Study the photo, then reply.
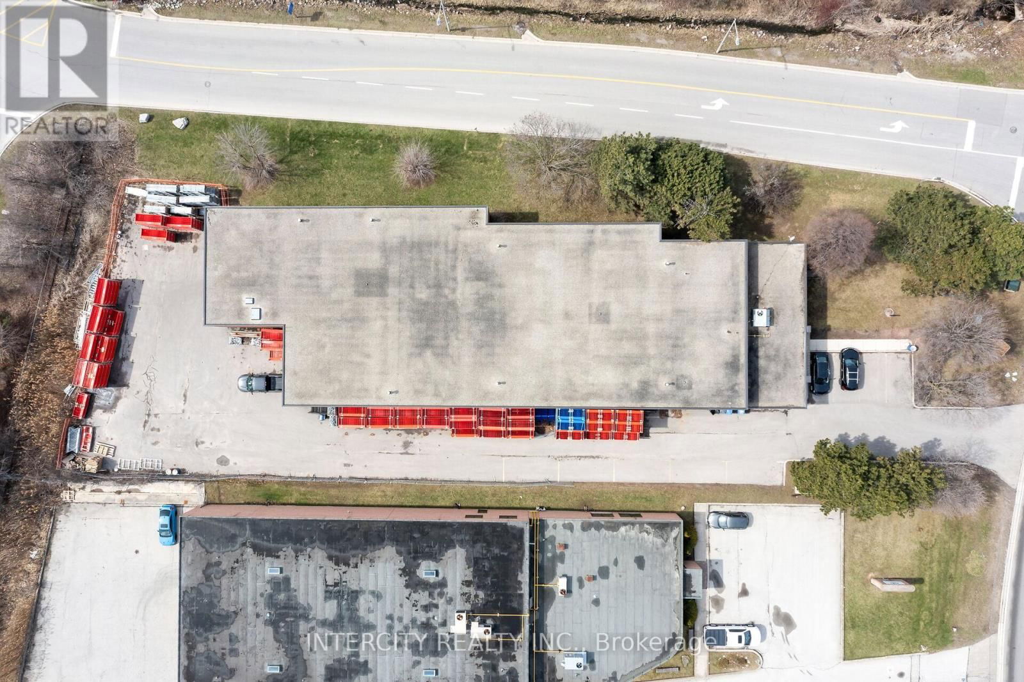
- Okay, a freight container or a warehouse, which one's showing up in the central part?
warehouse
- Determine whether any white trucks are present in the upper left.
No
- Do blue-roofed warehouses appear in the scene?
No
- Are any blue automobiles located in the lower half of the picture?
Yes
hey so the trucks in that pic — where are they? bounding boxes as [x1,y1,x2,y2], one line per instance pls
[705,624,758,648]
[239,373,283,394]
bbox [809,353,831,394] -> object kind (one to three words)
car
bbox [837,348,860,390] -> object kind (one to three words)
car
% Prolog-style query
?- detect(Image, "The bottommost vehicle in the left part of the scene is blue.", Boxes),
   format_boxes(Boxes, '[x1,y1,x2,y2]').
[157,505,179,545]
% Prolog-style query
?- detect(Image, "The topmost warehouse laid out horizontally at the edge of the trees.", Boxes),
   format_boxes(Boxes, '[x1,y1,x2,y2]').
[204,206,748,408]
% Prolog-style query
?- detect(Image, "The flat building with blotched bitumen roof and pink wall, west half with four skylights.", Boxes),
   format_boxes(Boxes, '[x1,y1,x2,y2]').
[180,504,529,682]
